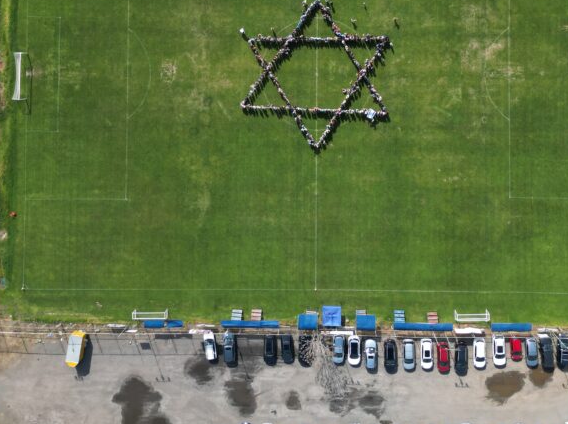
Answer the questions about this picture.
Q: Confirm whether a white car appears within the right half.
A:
Yes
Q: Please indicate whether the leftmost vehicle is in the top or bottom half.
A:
bottom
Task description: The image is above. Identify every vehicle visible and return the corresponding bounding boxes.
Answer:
[437,341,451,372]
[262,335,276,367]
[511,337,525,363]
[298,335,313,367]
[332,335,346,365]
[540,336,558,371]
[62,331,85,370]
[526,337,541,368]
[384,340,399,372]
[202,332,217,361]
[280,334,295,365]
[420,338,435,370]
[473,339,488,367]
[347,337,361,365]
[558,335,568,371]
[363,338,378,371]
[455,343,470,375]
[402,338,417,370]
[493,335,509,367]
